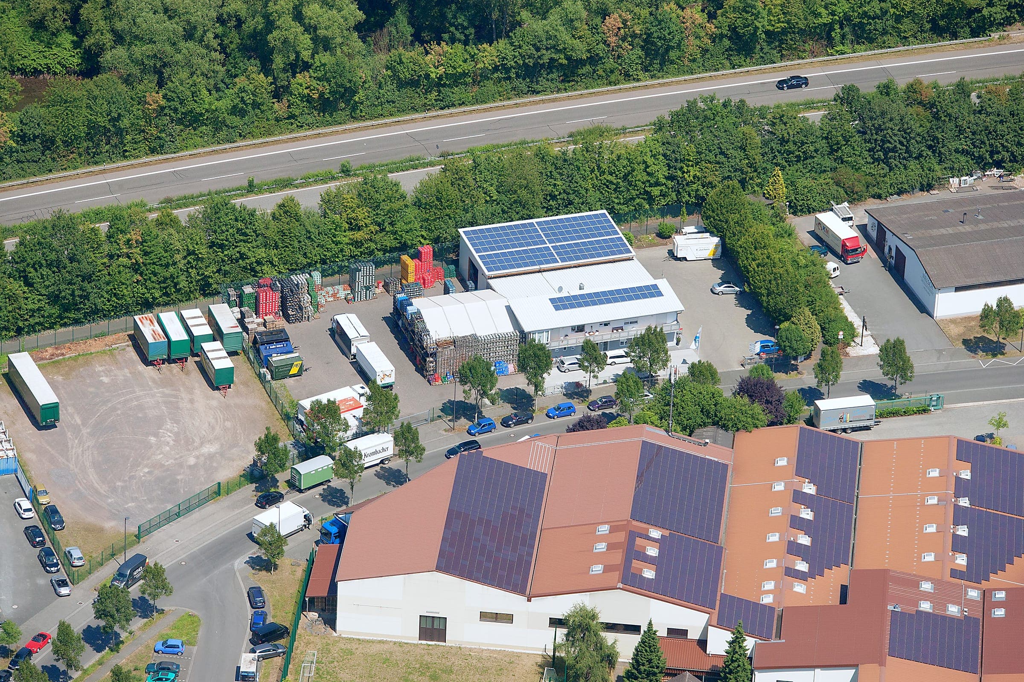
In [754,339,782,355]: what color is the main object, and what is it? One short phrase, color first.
blue car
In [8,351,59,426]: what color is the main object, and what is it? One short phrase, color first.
white trailer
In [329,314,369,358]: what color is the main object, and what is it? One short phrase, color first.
white truck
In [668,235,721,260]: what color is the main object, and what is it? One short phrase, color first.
white trailer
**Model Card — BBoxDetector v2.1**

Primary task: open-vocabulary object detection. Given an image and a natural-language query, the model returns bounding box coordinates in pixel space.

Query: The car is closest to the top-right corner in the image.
[776,73,810,89]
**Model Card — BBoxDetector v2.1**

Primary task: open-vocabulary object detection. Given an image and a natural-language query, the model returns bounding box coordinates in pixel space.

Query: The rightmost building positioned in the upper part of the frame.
[864,192,1024,318]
